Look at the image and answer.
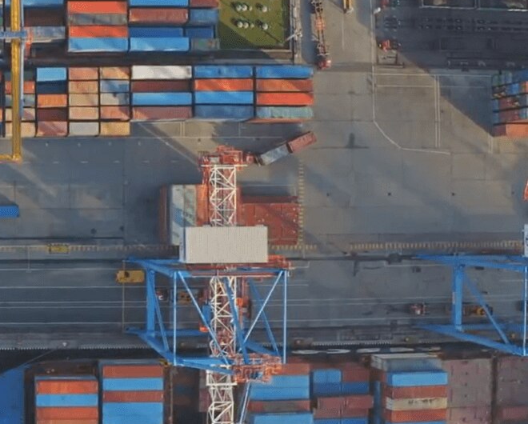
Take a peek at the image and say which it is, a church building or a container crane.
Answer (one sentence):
It is a container crane that can be seen here.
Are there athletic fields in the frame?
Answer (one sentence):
No, the scene contains no athletic field.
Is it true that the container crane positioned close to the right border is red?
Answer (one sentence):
No, the container crane positioned close to the right border is blue.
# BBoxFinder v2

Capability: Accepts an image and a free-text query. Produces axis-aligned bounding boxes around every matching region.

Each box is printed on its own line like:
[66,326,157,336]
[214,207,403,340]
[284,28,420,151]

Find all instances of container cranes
[402,225,528,369]
[118,141,294,424]
[0,0,37,165]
